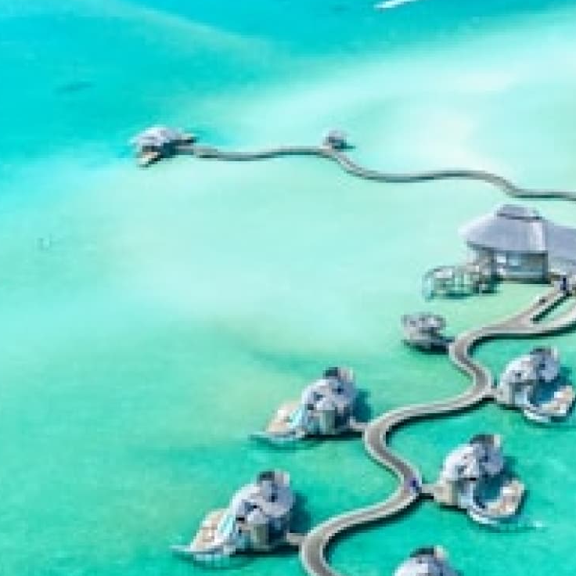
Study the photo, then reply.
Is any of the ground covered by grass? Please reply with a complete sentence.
No, grass can't be seen anywhere here.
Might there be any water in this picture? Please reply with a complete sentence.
Yes, some water is visible.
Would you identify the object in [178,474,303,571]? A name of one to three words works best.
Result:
house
